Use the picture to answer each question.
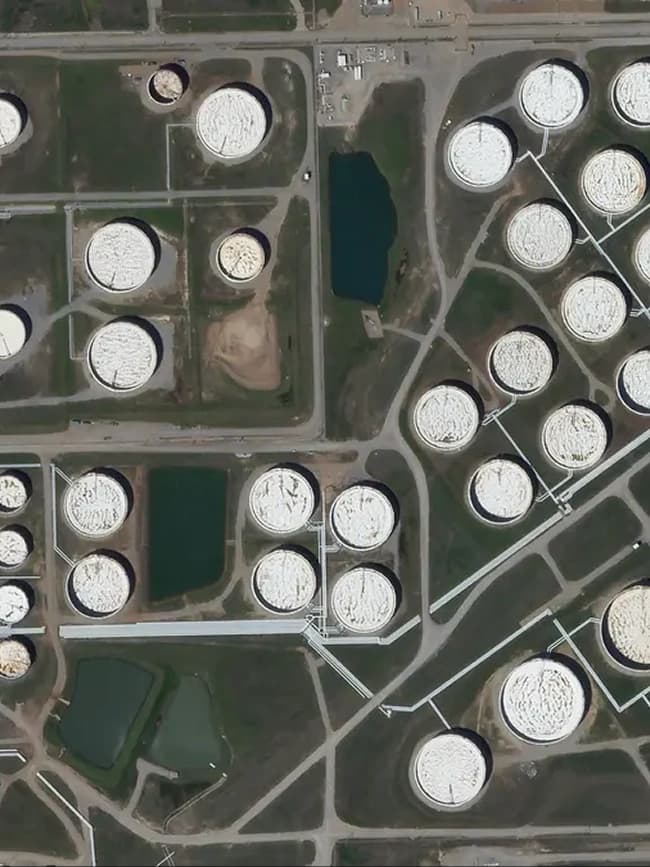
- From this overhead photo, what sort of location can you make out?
industrial area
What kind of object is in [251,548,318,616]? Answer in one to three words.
storage tank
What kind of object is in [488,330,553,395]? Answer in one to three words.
storage tank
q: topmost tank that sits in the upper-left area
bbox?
[147,69,184,106]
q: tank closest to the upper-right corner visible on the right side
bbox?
[611,61,650,128]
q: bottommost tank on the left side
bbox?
[0,638,31,680]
